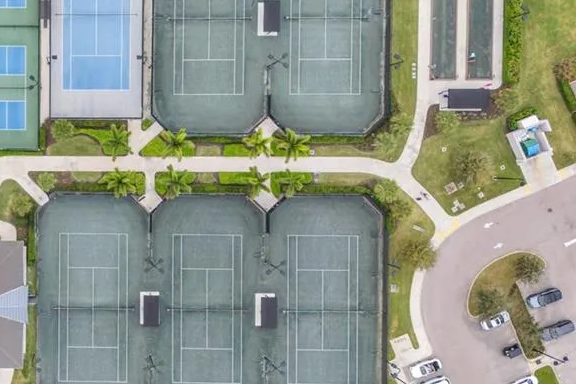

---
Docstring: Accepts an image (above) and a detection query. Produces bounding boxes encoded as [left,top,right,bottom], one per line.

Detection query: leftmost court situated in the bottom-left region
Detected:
[37,194,151,384]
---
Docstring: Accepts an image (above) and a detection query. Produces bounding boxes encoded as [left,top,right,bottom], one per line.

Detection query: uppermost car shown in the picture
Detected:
[526,288,563,307]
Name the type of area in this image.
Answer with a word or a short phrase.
sports ground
